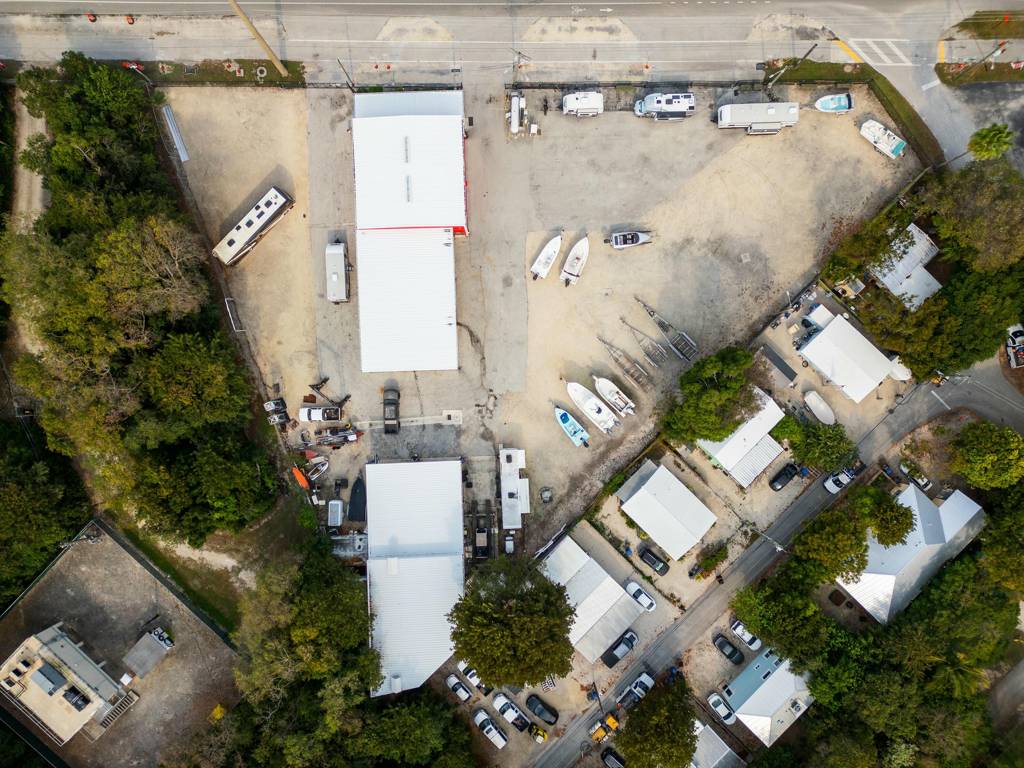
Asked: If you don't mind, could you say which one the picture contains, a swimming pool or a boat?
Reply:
boat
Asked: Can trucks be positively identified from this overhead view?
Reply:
Yes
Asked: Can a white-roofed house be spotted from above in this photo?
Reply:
Yes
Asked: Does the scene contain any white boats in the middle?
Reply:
Yes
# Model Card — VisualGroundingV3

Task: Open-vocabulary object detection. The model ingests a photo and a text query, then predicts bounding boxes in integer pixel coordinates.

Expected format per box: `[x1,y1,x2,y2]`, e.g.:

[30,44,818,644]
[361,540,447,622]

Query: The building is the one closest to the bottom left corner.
[0,612,141,746]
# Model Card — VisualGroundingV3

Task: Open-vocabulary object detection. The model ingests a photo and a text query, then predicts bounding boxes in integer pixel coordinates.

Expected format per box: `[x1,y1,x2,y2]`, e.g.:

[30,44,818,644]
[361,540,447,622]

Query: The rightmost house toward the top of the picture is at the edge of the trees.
[861,223,941,312]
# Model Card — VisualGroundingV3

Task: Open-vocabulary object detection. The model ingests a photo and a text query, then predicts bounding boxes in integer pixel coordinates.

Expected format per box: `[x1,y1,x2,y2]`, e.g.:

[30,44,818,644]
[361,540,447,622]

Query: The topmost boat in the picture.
[813,94,856,112]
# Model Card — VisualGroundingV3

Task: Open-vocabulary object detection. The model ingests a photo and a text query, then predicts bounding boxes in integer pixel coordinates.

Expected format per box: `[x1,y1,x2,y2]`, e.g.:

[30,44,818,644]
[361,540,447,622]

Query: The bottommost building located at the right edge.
[842,483,986,625]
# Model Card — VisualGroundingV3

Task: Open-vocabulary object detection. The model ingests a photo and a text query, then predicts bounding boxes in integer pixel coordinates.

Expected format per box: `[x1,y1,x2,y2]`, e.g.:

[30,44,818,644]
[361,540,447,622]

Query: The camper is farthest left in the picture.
[214,184,295,269]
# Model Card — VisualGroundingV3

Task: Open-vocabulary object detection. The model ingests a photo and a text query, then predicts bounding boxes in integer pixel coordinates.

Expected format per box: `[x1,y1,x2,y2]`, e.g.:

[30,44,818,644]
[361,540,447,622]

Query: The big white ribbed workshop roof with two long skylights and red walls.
[351,89,472,238]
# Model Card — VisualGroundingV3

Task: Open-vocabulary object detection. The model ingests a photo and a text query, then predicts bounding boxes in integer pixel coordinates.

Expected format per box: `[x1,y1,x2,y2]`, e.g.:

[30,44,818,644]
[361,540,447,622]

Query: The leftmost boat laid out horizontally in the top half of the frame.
[606,231,651,248]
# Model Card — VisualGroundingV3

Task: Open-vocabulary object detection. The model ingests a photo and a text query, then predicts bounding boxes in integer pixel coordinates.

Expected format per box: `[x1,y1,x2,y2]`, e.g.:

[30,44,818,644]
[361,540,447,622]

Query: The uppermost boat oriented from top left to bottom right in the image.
[860,122,905,159]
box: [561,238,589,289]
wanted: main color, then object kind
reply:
white boat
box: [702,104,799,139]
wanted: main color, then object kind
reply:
white vehicle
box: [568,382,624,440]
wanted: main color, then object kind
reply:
white boat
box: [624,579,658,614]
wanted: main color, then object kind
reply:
white car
